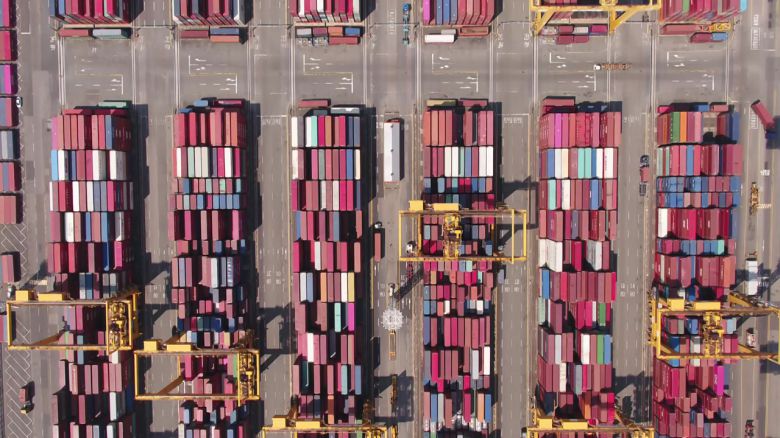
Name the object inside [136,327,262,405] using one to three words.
container crane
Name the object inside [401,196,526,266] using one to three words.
container crane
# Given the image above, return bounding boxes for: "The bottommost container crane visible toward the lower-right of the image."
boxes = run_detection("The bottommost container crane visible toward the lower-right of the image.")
[528,399,657,438]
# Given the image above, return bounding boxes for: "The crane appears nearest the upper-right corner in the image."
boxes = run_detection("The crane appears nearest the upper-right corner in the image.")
[529,0,658,38]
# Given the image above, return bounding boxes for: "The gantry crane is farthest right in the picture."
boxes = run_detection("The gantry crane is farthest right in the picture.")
[649,290,780,364]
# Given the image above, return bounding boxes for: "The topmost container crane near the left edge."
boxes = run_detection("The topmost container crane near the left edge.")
[7,283,142,356]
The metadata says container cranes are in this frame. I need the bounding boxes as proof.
[401,196,526,266]
[136,327,262,405]
[528,399,657,438]
[529,0,658,38]
[264,396,387,438]
[7,283,142,356]
[649,290,780,364]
